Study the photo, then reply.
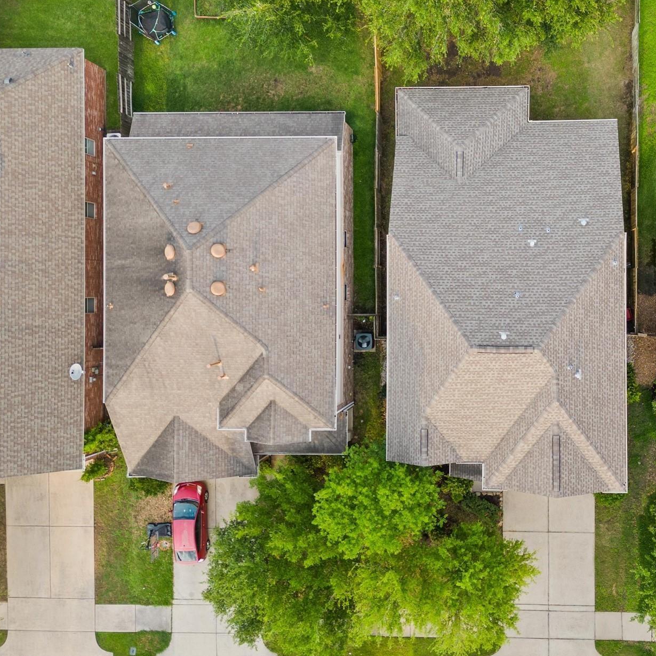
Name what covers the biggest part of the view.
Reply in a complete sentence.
Most of the picture is covered by buildings.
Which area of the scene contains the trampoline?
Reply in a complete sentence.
The trampoline sits in the top left section of the image.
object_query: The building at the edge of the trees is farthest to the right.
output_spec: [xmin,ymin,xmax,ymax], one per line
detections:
[385,84,629,502]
